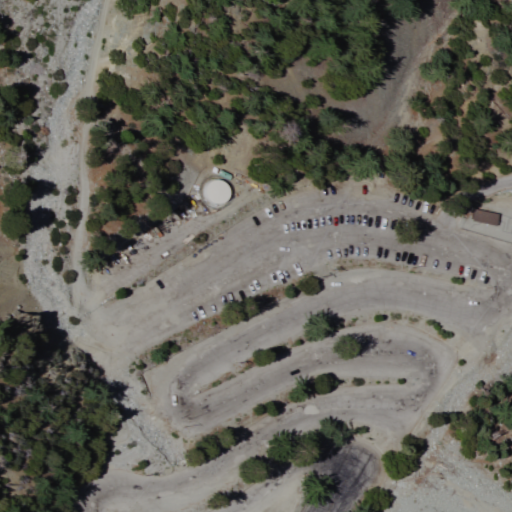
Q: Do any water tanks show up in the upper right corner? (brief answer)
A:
No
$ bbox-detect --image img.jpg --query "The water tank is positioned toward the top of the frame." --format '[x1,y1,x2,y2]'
[202,178,232,208]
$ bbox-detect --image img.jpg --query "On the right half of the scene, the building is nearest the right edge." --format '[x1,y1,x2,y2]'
[473,208,502,226]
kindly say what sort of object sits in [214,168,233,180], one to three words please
vehicle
